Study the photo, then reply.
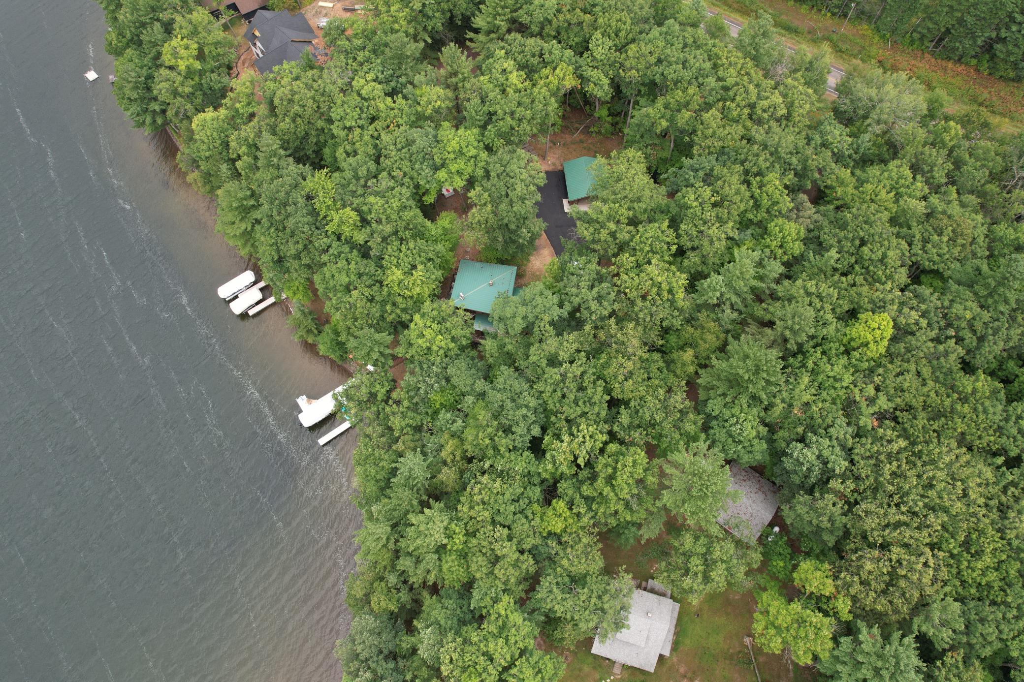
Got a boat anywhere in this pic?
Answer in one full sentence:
Yes, looking at the shot, I can spot a boat.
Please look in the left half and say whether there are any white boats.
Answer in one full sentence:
Yes, a white boat shows up in the left half.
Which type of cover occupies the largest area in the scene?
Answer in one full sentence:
For the most part, this view shows trees.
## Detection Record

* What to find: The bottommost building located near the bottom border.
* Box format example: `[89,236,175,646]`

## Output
[591,576,682,674]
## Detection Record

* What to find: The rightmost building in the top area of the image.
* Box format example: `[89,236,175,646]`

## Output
[563,154,606,209]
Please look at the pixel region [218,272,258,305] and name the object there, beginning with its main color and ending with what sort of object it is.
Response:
white boat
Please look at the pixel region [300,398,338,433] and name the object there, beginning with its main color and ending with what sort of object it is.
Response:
white boat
